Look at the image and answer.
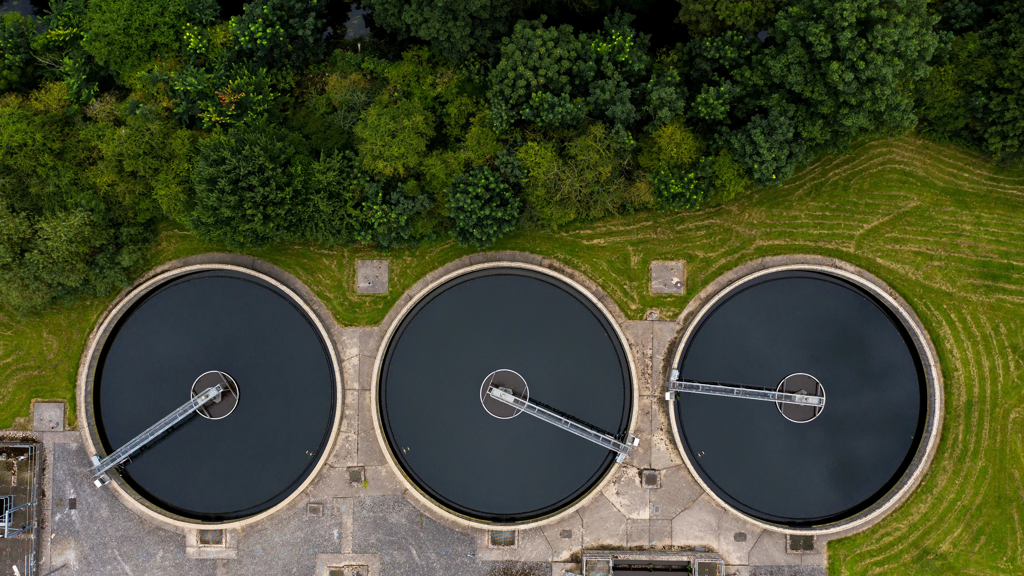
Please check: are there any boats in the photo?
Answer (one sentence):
No, this view has no boat in it.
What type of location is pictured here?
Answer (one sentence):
What you see here is an industrial area.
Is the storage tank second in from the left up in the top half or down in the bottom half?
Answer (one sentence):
You can find the storage tank second in from the left in the bottom half.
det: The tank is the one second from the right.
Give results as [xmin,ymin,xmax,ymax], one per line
[371,263,638,532]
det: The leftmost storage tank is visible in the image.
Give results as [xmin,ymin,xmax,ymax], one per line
[80,264,344,530]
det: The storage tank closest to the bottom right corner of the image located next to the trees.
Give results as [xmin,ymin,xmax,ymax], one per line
[667,264,940,535]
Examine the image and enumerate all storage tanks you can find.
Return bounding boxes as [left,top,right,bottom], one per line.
[667,264,940,535]
[80,264,344,530]
[371,263,638,532]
